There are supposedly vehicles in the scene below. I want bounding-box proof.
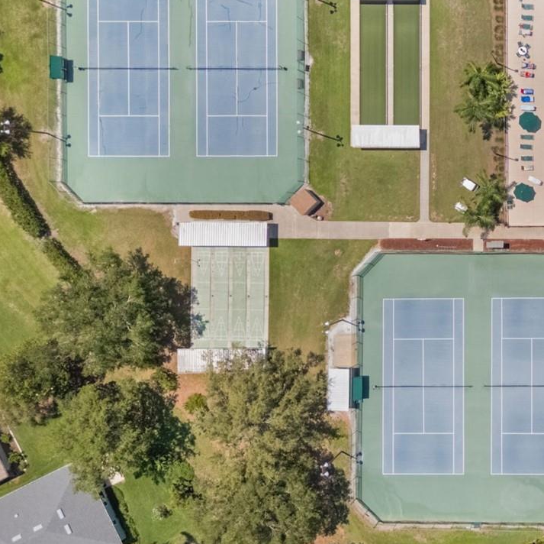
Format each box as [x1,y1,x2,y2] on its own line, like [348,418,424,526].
[459,177,476,191]
[451,200,470,214]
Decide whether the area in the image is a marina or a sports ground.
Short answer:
sports ground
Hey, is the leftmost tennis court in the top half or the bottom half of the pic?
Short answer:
top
